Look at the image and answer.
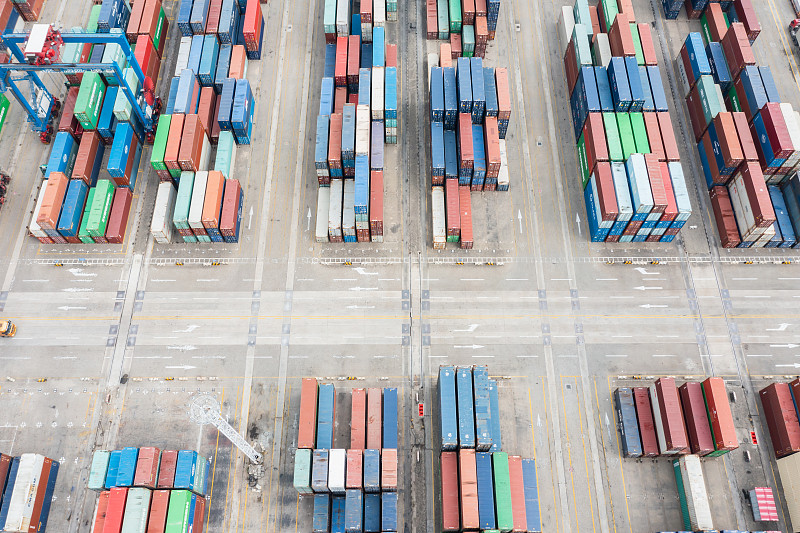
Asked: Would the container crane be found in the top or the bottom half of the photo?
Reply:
top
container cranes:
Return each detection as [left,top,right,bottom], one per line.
[0,24,161,144]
